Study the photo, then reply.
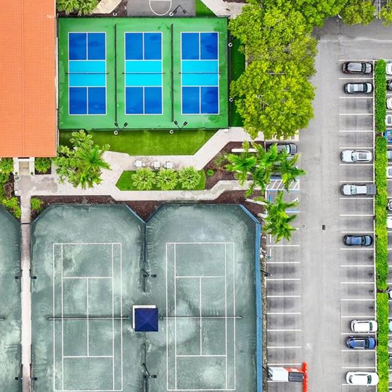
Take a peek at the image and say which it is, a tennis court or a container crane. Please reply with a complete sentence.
It is a tennis court that can be seen here.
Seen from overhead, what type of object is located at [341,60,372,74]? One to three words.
vehicle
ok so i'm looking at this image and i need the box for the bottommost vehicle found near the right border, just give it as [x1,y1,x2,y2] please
[345,372,378,388]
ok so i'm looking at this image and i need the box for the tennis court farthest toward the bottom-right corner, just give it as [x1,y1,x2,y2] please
[144,206,257,392]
